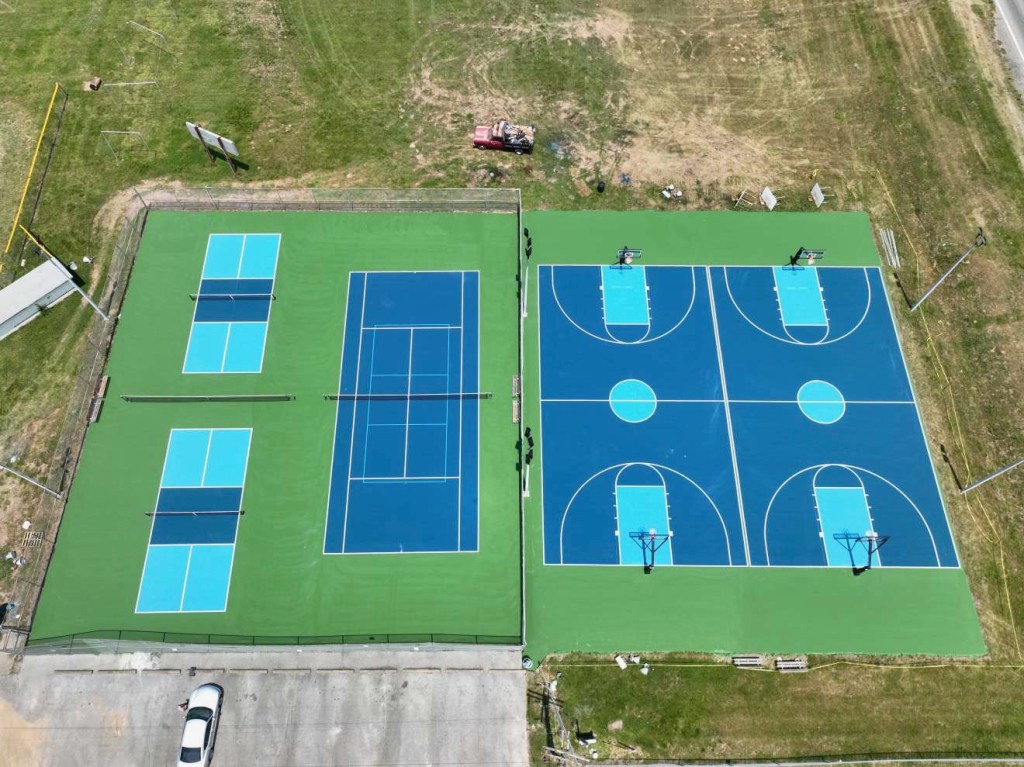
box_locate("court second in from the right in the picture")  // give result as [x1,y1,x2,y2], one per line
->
[537,265,751,566]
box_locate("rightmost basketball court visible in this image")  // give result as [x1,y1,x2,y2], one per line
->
[710,266,959,567]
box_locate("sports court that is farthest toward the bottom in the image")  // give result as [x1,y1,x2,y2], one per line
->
[135,428,252,613]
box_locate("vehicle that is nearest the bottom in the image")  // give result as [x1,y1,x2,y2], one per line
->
[178,684,224,767]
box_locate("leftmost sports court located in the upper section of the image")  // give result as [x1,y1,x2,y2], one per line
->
[183,234,281,373]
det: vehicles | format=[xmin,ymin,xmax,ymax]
[178,684,224,767]
[473,123,537,155]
